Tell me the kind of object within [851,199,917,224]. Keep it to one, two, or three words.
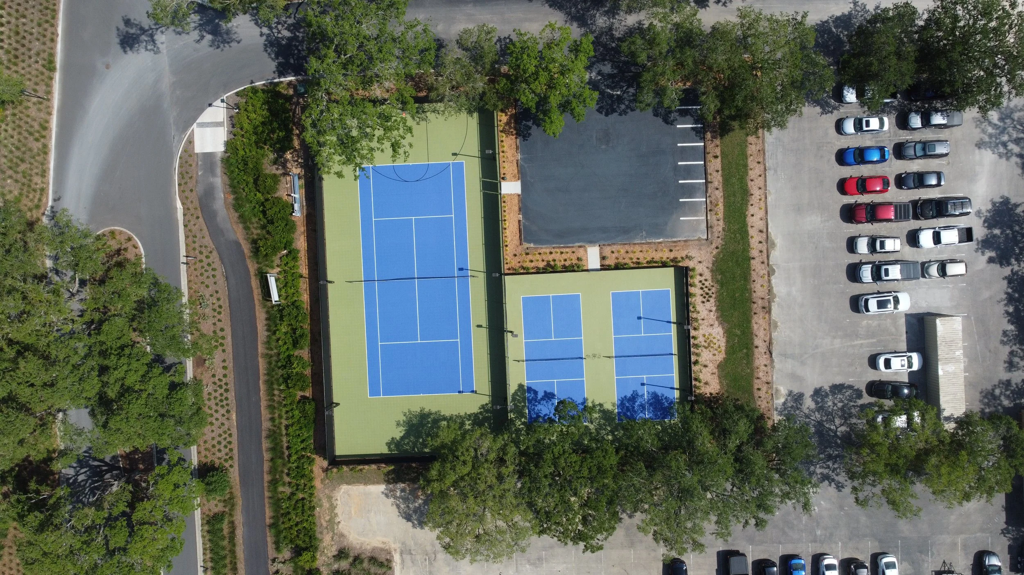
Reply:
truck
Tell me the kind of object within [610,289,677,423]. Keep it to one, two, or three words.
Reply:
sports court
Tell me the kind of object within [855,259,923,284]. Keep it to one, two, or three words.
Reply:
truck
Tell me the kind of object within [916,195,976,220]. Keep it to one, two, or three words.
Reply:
car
